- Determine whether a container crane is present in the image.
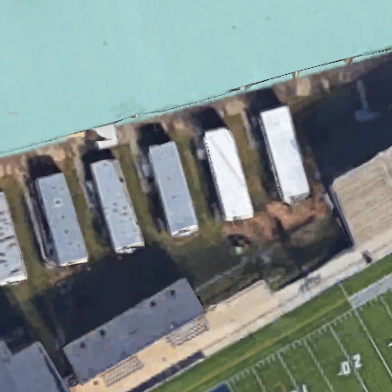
No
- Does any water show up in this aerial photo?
No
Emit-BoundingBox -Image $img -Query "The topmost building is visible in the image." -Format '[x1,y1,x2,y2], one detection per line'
[0,0,392,160]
